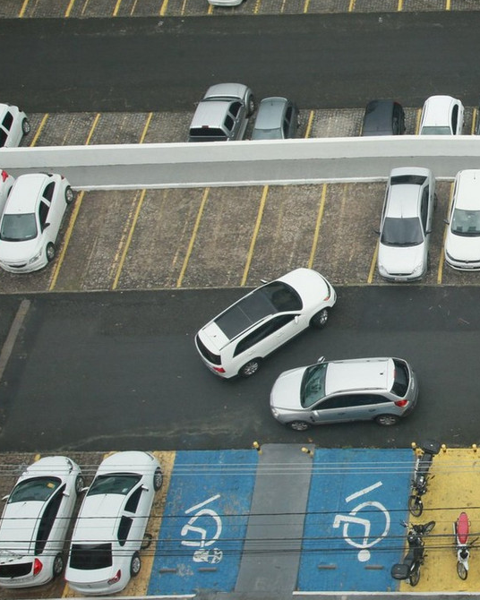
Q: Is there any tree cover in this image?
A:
No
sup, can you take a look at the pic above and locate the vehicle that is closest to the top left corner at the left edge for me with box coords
[0,107,29,147]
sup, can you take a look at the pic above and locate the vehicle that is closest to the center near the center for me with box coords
[197,276,333,378]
